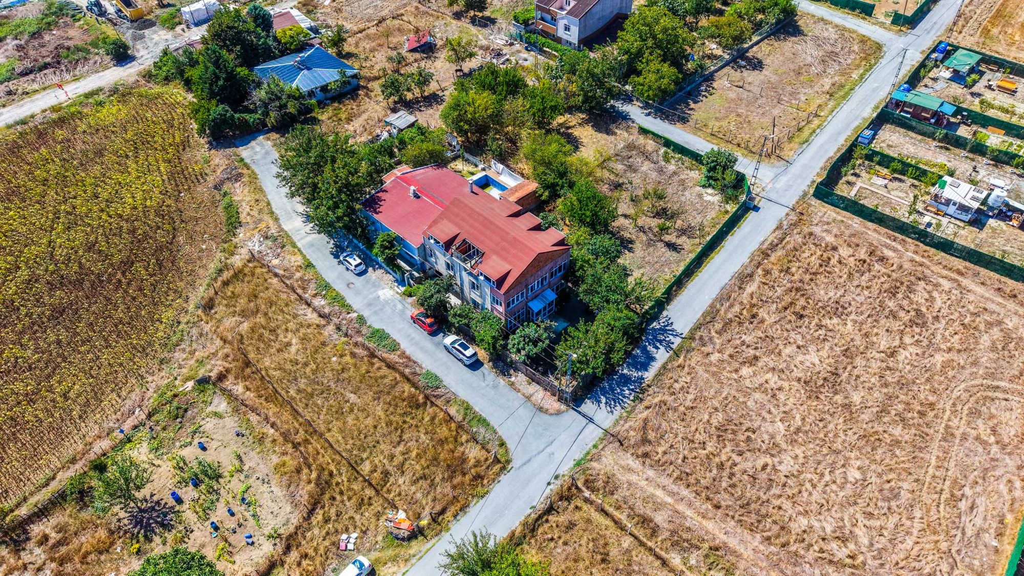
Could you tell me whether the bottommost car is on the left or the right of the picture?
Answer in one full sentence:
The bottommost car sits on the left side.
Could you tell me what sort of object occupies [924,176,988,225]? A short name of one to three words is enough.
building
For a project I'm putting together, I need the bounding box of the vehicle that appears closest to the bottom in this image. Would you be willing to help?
[334,553,375,576]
